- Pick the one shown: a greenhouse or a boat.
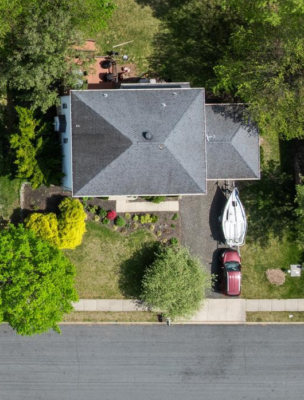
boat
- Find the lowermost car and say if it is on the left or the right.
right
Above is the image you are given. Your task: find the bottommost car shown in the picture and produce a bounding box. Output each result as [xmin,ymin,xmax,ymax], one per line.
[219,248,245,296]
